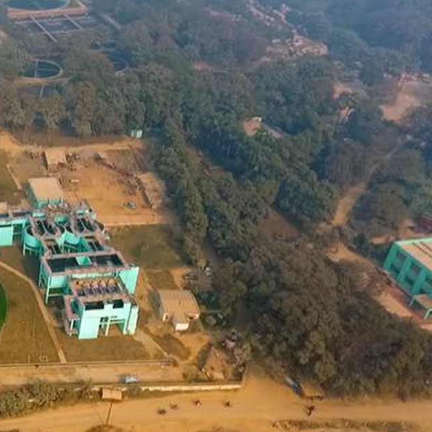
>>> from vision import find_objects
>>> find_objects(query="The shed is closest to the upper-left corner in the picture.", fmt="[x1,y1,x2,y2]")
[38,146,70,168]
